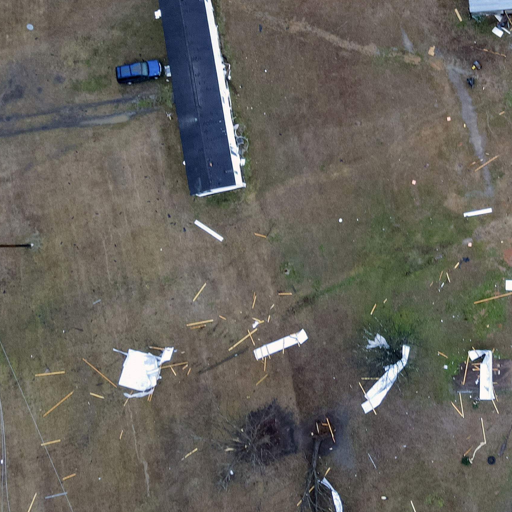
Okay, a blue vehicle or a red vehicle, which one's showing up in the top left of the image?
blue vehicle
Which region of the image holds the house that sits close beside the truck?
top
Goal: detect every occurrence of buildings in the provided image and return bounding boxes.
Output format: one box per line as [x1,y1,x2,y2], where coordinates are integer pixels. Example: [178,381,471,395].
[159,0,246,197]
[469,0,512,21]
